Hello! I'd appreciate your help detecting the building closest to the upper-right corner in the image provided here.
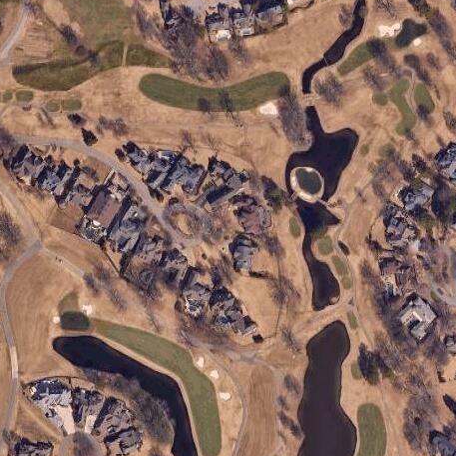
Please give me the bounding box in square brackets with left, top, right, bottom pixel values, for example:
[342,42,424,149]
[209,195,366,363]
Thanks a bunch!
[433,142,456,178]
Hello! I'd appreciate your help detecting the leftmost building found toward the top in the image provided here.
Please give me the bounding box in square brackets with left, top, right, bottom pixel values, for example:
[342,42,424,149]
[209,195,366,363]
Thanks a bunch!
[6,146,42,187]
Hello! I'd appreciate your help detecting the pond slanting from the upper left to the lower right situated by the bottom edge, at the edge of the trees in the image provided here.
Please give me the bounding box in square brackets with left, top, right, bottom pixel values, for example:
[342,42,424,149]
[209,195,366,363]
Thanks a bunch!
[53,336,198,456]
